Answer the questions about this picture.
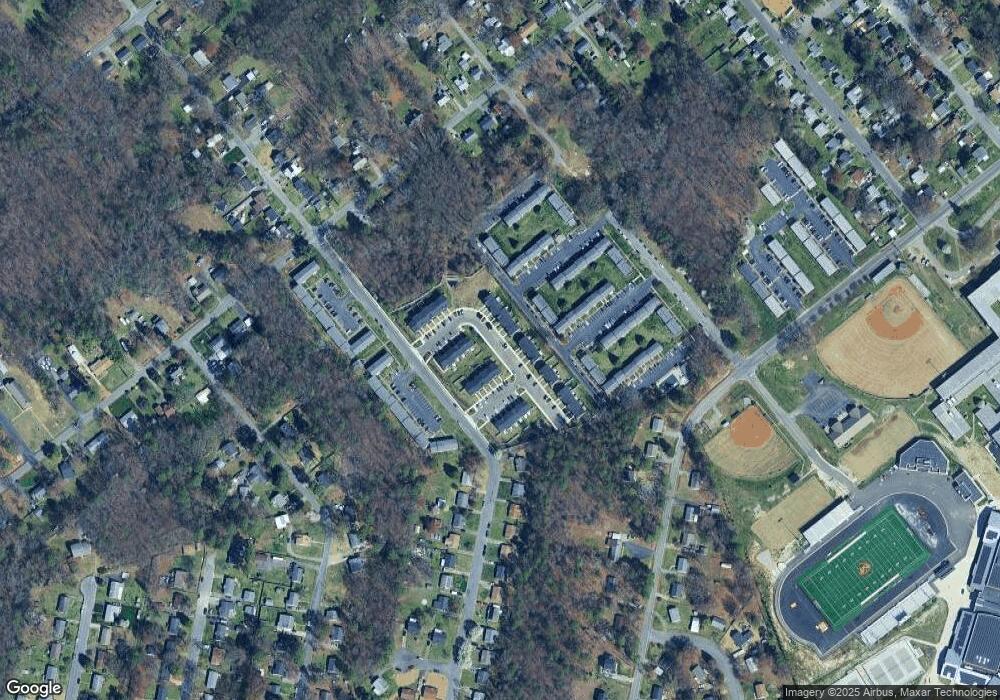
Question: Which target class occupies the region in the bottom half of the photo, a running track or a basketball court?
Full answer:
The feature located in the bottom half of the photo is a running track.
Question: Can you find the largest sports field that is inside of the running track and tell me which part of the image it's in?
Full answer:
The largest sports field that is inside of the running track sits in the bottom right section of the image.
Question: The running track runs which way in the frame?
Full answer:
The running track is laid out diagonally.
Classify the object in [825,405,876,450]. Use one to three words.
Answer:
building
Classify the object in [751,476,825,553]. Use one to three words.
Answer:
sports field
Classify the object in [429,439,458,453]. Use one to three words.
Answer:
building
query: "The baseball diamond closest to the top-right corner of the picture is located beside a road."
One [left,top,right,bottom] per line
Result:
[816,274,971,398]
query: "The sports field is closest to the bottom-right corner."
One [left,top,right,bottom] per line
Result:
[798,506,932,630]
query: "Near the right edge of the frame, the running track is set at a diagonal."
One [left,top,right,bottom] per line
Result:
[777,492,959,658]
